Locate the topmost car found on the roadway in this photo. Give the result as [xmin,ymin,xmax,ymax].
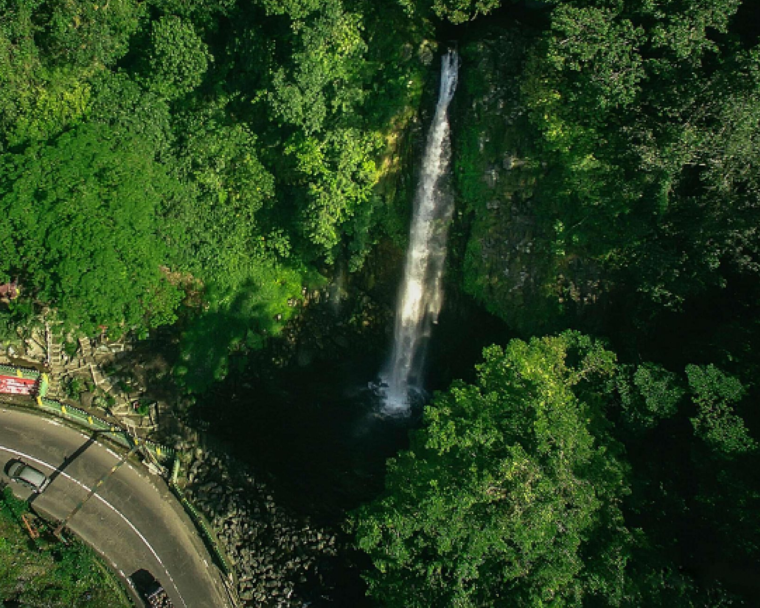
[7,463,52,496]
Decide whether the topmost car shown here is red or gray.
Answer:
gray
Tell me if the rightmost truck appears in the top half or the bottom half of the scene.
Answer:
bottom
